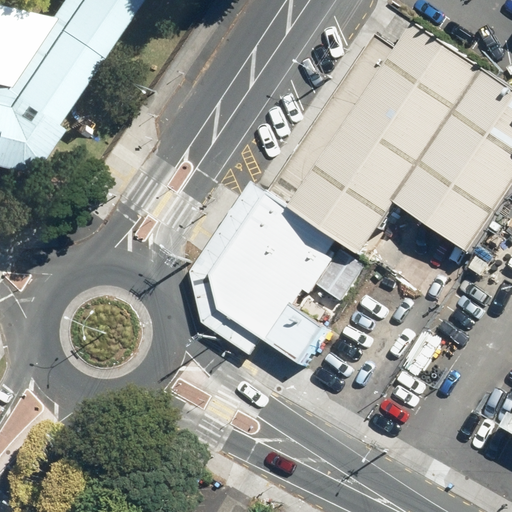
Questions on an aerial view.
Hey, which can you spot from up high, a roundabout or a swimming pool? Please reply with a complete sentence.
It is a roundabout that can be seen here.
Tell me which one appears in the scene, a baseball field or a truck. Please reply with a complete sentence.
There is a truck in the scene.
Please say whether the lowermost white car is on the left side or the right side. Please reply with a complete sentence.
It is on the right.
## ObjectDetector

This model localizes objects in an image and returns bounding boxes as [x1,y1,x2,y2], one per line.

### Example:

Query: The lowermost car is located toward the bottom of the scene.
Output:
[264,454,298,474]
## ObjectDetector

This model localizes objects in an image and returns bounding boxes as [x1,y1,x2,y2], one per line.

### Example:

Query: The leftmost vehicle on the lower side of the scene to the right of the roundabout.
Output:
[239,380,270,406]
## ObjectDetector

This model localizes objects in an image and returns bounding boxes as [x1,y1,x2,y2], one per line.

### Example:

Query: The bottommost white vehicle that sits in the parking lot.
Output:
[470,418,495,449]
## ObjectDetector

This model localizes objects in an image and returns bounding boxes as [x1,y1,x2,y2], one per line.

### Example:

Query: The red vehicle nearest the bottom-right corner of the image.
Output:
[377,398,412,424]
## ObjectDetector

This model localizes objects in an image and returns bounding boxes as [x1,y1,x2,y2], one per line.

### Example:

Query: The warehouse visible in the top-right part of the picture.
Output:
[266,22,512,256]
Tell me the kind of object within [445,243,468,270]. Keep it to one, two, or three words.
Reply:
vehicle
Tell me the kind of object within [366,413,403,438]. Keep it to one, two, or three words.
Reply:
car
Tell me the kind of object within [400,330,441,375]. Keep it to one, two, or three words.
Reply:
truck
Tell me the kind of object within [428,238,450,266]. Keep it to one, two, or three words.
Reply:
car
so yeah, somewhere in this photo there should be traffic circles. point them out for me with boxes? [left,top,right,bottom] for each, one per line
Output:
[6,232,208,418]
